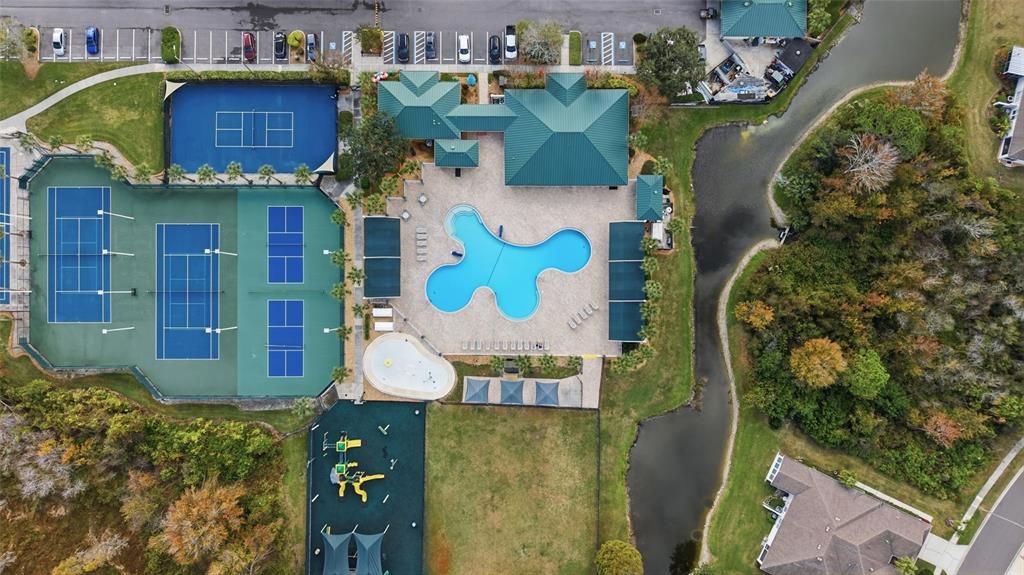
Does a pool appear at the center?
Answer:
Yes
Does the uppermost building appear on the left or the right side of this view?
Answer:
right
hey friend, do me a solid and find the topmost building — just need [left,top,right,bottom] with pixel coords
[717,0,807,42]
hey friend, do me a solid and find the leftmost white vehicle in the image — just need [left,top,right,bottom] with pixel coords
[49,26,64,55]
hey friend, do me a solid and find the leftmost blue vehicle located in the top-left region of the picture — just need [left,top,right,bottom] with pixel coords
[83,25,98,54]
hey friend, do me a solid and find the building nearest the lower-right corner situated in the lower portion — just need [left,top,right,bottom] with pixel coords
[751,451,932,575]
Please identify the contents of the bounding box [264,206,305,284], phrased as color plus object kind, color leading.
blue sports court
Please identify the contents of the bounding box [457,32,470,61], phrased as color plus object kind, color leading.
white vehicle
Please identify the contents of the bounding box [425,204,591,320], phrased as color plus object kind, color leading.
blue swimming pool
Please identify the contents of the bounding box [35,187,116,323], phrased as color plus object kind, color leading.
blue tennis court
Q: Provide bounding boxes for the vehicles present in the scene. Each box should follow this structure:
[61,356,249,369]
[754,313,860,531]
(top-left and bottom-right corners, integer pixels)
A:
[488,33,501,63]
[771,69,790,92]
[425,29,437,58]
[504,24,518,58]
[457,32,470,61]
[83,25,98,54]
[396,30,409,61]
[49,26,64,55]
[241,30,255,59]
[306,30,319,59]
[273,30,286,58]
